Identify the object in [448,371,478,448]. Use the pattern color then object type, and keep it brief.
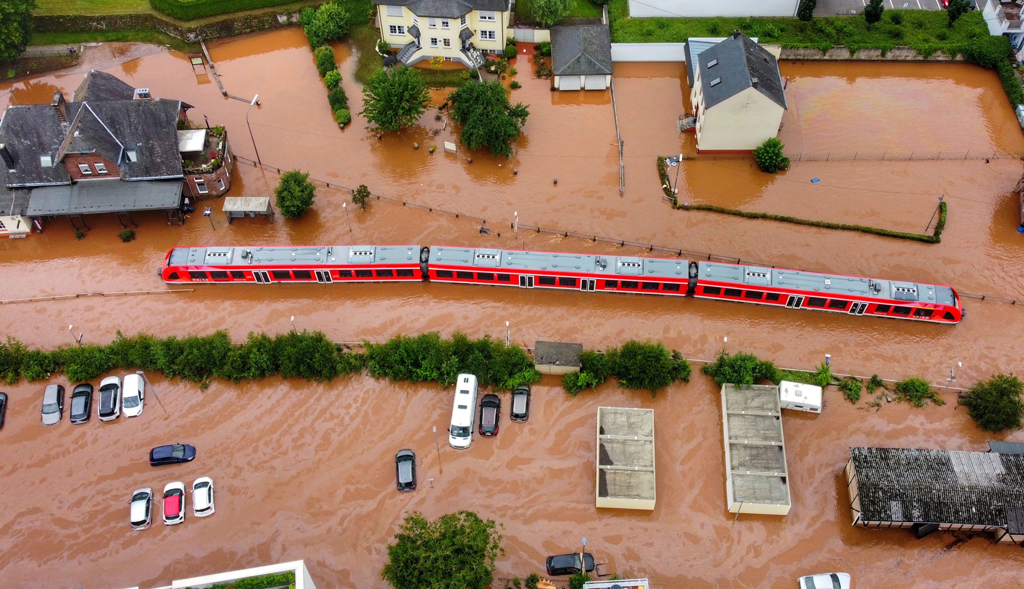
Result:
white van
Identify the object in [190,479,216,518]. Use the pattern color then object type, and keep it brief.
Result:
white car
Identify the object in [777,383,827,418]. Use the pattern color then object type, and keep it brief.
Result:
white camper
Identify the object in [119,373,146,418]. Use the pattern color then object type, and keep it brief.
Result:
white vehicle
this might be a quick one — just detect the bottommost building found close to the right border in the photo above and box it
[842,446,1024,551]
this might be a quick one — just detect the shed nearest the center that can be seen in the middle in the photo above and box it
[534,337,584,375]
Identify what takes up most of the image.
water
